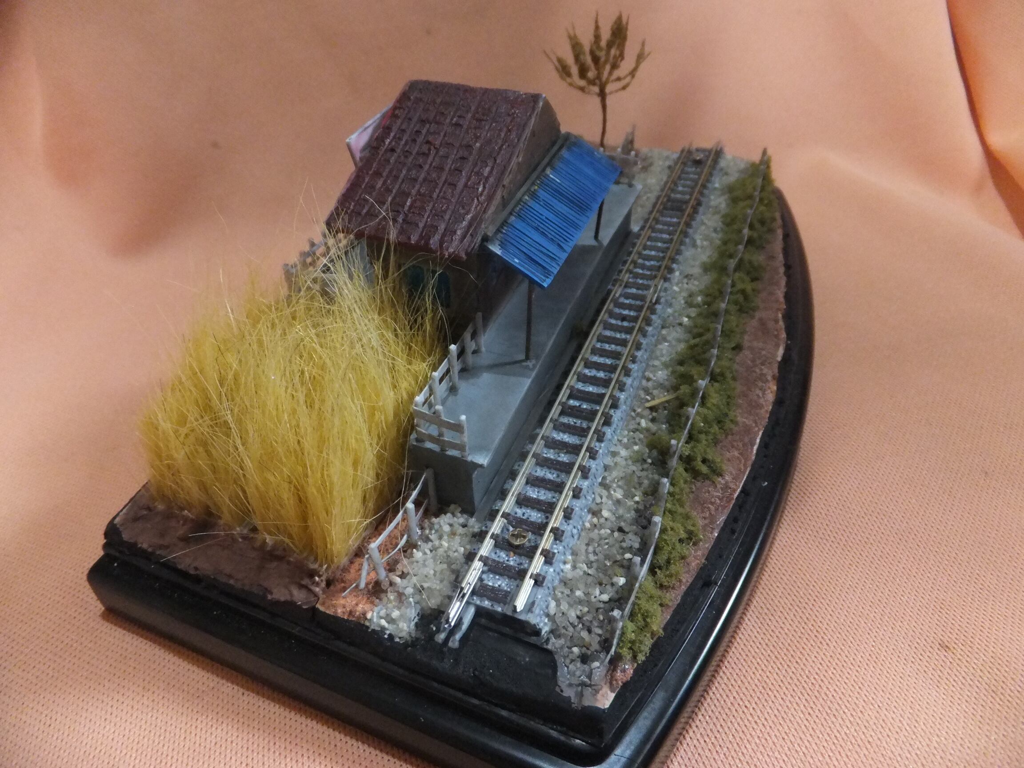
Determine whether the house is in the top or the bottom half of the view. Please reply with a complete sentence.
The top half of the photo is where the house is.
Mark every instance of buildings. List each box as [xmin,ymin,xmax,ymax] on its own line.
[318,81,620,373]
